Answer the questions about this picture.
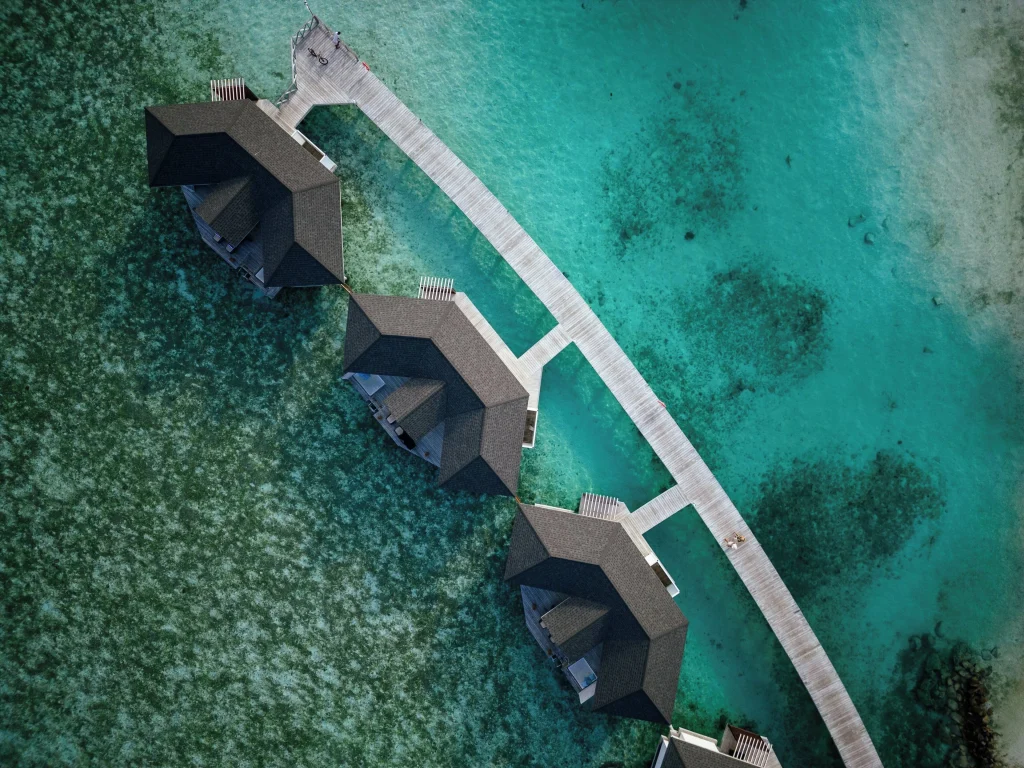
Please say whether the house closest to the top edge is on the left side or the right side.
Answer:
left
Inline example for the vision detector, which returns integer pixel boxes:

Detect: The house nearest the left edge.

[144,80,346,301]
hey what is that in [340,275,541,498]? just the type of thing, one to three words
house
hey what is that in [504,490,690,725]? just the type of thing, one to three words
house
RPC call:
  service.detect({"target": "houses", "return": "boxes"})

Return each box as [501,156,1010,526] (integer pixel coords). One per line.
[144,80,346,301]
[648,720,781,768]
[504,490,690,725]
[340,275,541,498]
